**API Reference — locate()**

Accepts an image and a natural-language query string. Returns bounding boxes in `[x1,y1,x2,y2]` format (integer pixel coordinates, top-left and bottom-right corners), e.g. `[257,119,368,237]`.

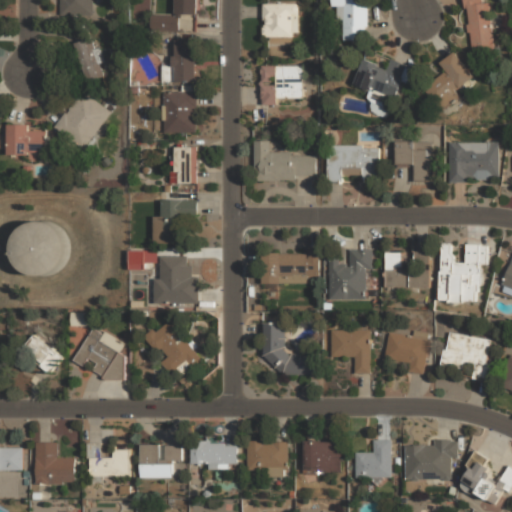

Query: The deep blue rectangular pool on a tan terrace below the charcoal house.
[342,96,370,115]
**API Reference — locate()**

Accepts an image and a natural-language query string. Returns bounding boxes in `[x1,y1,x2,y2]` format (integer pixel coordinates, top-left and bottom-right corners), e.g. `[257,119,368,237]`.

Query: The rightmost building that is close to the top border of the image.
[462,0,498,50]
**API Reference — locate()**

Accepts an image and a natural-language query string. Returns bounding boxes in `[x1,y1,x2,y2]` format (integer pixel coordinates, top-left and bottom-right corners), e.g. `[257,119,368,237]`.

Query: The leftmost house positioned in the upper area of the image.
[6,124,48,162]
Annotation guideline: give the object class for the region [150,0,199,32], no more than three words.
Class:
house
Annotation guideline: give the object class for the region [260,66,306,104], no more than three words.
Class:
house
